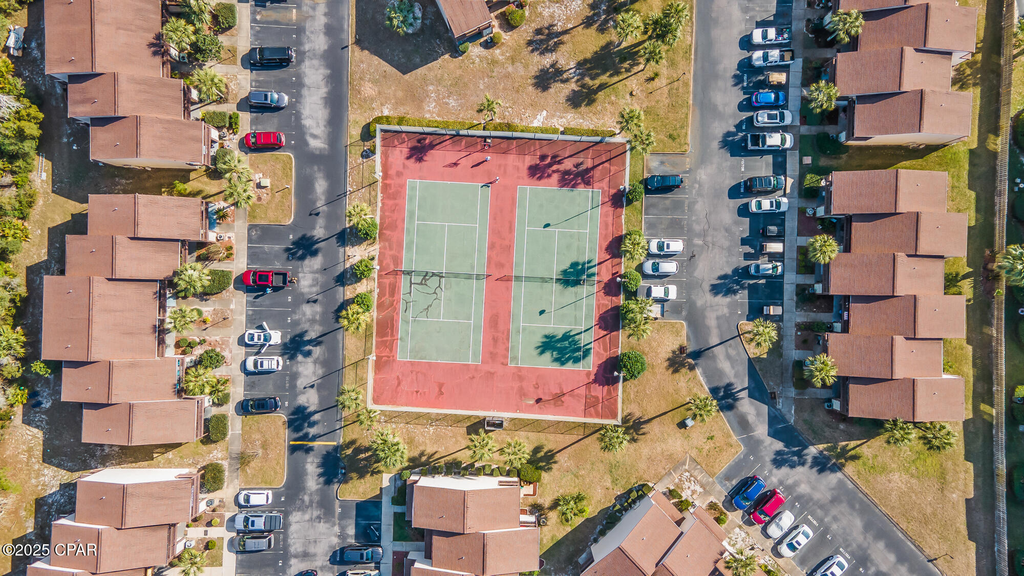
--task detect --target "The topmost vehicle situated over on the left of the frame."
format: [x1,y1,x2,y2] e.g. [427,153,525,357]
[249,45,295,66]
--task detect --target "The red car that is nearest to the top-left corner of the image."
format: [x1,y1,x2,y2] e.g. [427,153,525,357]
[245,130,286,149]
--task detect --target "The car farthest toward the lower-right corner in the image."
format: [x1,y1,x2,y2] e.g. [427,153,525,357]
[814,551,846,576]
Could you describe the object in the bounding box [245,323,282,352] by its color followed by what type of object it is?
white car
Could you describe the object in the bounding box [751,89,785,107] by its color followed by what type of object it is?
blue car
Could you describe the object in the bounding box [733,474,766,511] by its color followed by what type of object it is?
blue car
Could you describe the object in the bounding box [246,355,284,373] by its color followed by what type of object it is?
white car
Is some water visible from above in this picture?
No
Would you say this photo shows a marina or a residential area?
residential area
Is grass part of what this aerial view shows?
Yes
